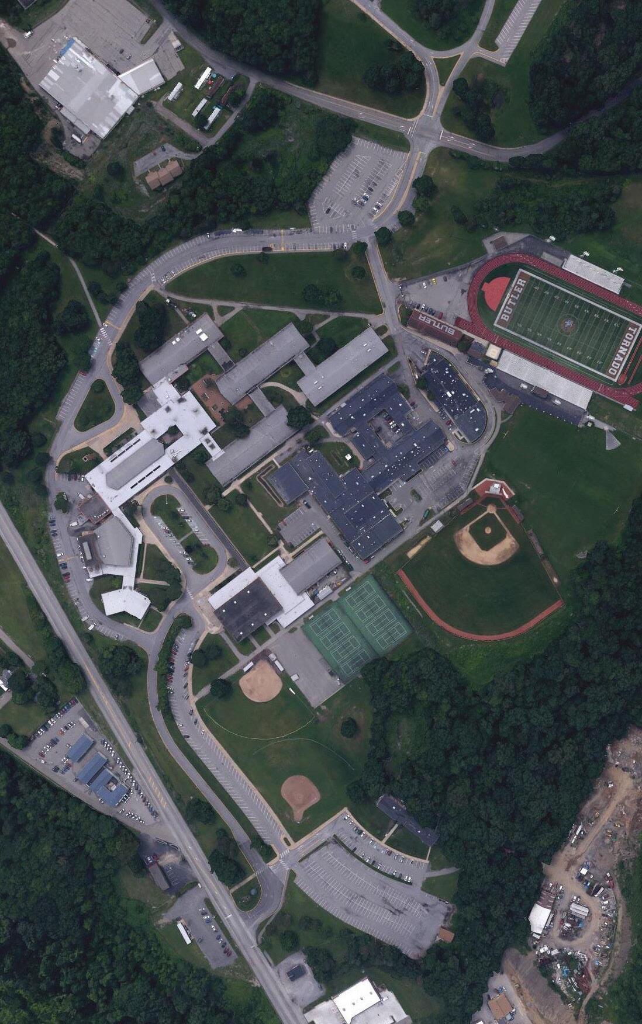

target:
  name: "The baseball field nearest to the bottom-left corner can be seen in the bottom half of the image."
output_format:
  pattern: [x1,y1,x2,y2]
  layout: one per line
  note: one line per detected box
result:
[281,775,321,823]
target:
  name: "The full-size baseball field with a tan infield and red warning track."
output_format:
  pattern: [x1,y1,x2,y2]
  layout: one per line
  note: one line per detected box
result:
[397,479,564,641]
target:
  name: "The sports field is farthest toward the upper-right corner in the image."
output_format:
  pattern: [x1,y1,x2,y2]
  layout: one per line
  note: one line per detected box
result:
[480,264,642,386]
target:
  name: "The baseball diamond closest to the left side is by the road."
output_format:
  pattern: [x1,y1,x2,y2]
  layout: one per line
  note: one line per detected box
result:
[239,659,283,702]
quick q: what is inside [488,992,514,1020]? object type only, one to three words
house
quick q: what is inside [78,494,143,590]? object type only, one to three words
building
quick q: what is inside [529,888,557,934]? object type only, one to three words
building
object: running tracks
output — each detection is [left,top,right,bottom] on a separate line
[454,253,642,409]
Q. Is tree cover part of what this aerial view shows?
Yes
